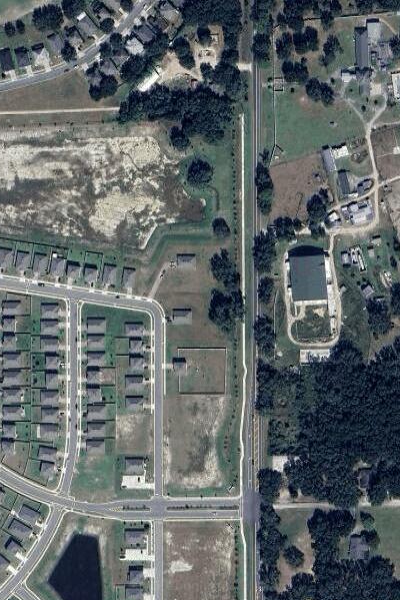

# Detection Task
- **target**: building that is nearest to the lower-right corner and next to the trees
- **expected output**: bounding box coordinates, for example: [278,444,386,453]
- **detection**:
[351,536,369,559]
